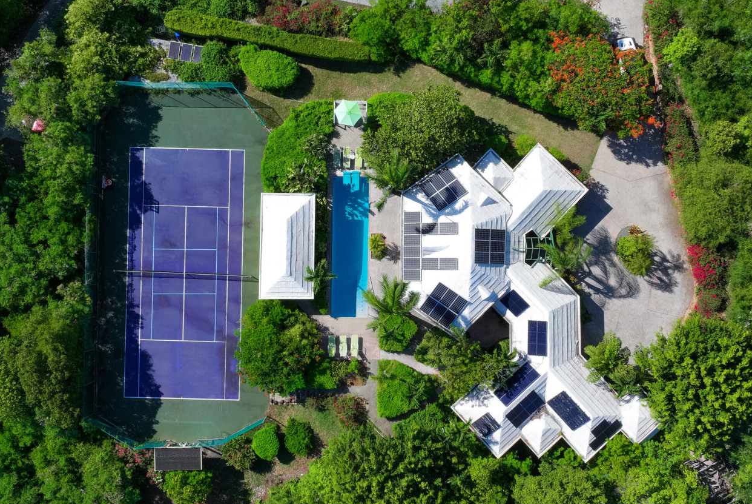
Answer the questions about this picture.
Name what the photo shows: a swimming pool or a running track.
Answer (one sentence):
This aerial view contains a swimming pool.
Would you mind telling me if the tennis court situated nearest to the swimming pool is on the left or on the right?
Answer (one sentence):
It is on the left.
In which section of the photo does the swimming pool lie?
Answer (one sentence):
The swimming pool is located in the center region of the scene.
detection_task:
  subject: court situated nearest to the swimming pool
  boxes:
[97,90,273,443]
